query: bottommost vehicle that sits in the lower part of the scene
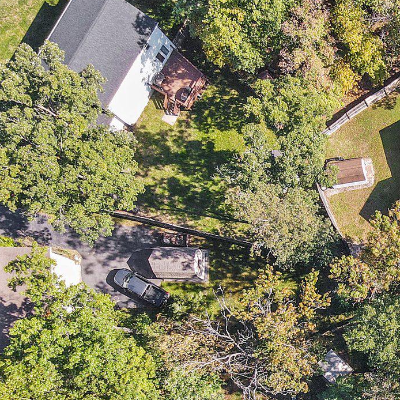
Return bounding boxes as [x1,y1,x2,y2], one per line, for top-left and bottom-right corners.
[114,266,169,309]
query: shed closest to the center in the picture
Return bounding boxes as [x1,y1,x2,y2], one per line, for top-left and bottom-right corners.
[149,249,207,282]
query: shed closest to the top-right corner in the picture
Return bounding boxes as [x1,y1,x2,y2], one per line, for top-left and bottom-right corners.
[325,157,370,193]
